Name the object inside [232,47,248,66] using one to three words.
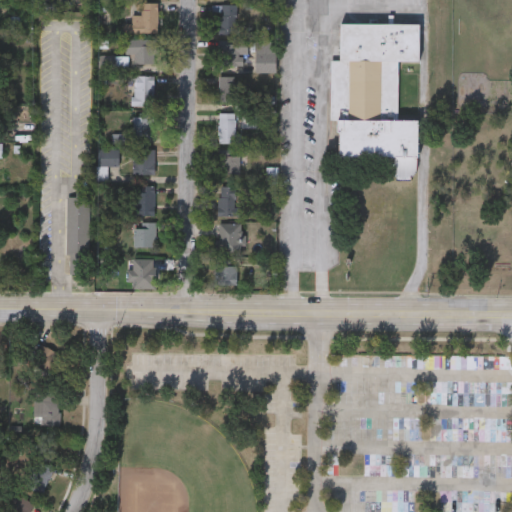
house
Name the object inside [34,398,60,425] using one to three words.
house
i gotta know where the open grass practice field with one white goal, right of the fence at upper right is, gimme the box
[456,0,512,80]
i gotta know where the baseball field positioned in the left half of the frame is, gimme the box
[120,400,254,512]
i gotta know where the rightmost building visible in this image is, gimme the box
[332,15,420,180]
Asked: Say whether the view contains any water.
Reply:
No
